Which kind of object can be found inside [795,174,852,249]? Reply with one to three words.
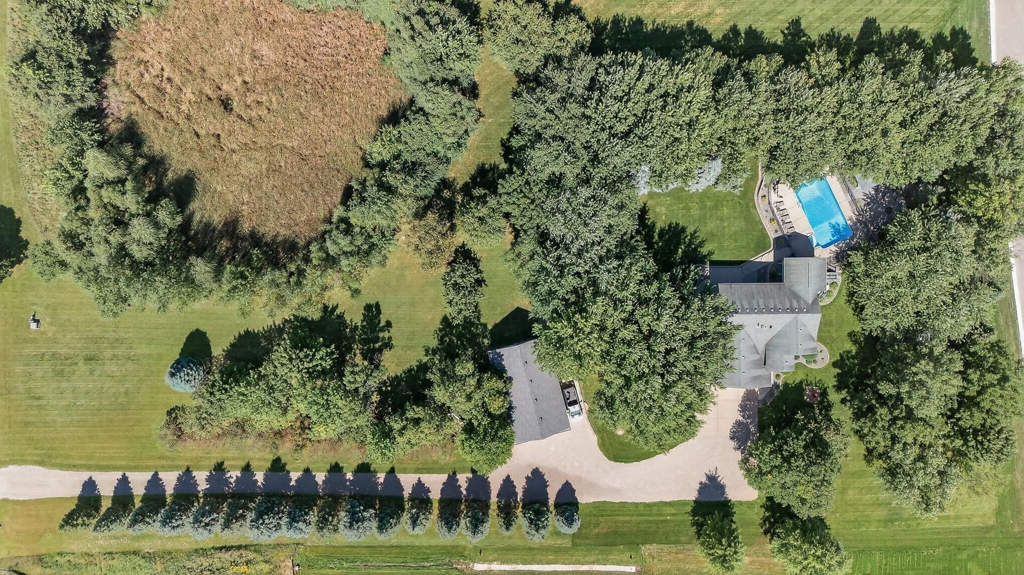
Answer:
swimming pool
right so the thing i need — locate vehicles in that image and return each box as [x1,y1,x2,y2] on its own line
[563,386,583,424]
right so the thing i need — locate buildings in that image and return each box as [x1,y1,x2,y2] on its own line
[488,338,572,445]
[707,257,827,389]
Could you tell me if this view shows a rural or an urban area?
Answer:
rural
